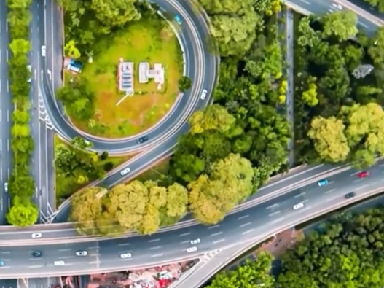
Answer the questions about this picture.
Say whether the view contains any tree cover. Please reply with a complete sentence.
Yes, some tree cover is visible.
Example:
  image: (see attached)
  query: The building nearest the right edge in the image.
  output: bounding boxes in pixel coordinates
[137,62,164,90]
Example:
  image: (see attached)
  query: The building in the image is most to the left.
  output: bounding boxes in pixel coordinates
[118,58,134,92]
